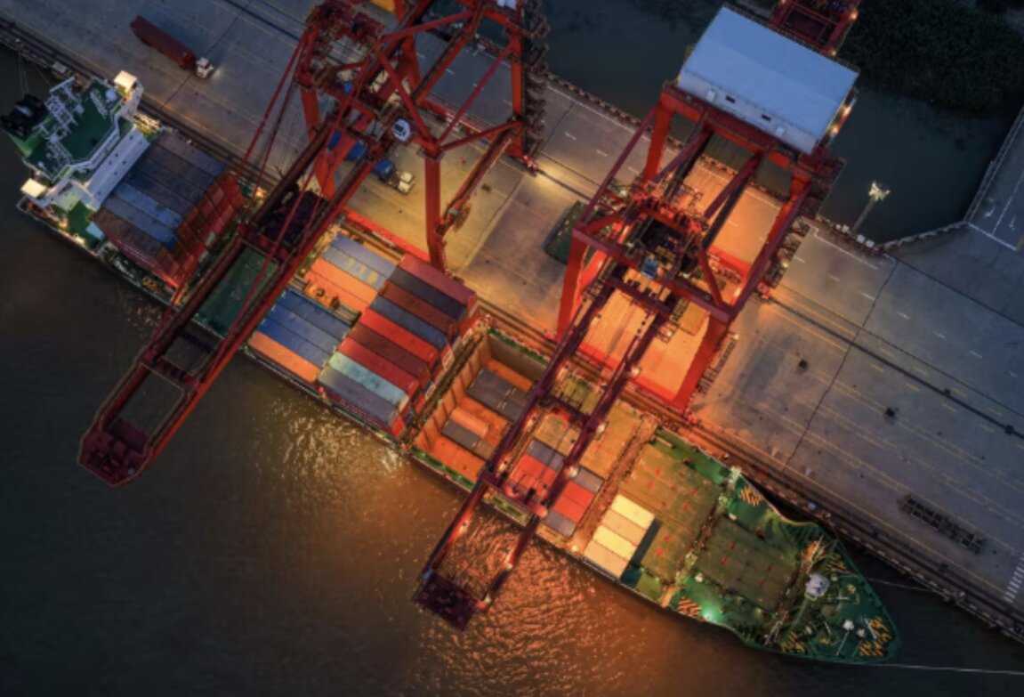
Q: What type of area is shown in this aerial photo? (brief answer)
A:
port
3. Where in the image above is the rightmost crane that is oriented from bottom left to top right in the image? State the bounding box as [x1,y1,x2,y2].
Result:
[413,0,863,632]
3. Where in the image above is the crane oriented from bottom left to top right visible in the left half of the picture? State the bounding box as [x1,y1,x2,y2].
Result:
[68,0,554,486]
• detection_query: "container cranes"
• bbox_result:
[68,0,554,486]
[413,0,863,632]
